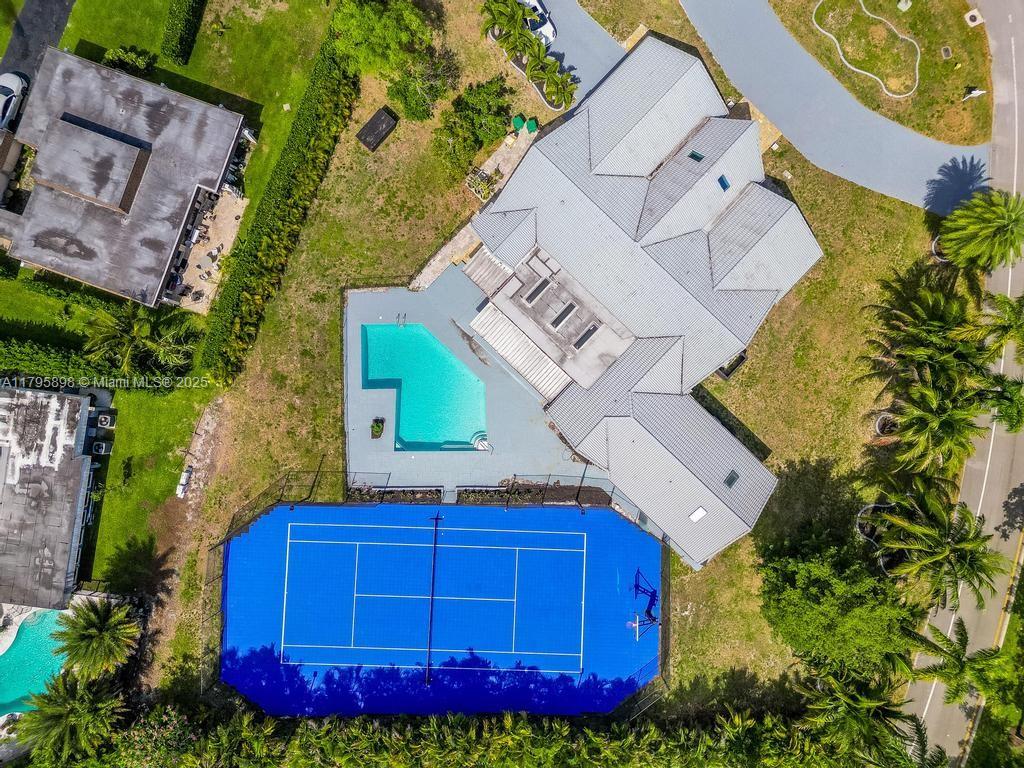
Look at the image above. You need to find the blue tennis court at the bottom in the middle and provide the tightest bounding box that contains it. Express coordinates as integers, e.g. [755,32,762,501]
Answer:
[218,504,663,720]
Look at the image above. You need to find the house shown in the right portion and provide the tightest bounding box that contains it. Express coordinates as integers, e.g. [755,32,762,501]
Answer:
[463,38,823,566]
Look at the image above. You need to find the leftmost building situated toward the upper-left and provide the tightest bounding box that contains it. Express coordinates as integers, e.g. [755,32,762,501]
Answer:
[0,46,245,307]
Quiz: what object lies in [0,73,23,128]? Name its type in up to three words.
car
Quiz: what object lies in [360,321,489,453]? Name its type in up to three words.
swimming pool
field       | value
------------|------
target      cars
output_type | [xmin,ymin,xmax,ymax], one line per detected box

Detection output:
[0,73,23,128]
[518,0,552,43]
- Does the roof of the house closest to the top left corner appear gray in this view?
Yes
